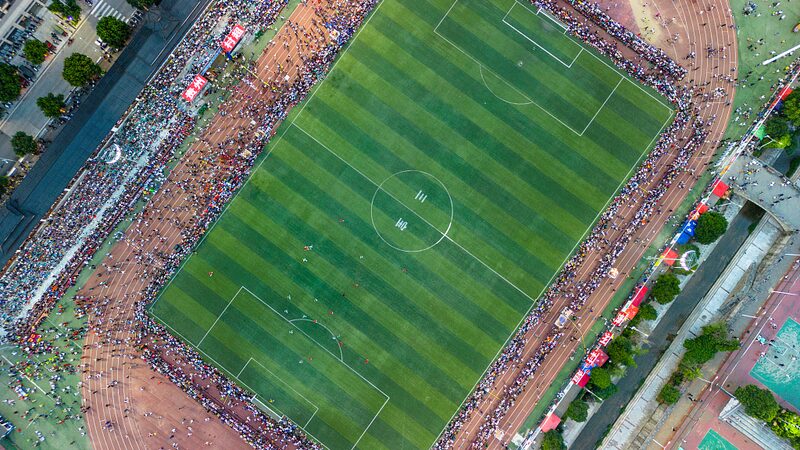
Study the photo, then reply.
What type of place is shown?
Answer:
sports ground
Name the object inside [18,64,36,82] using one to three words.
car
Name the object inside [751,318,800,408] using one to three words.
basketball court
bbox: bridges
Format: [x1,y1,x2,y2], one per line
[728,150,800,230]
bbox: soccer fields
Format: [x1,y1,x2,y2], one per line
[137,0,687,450]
